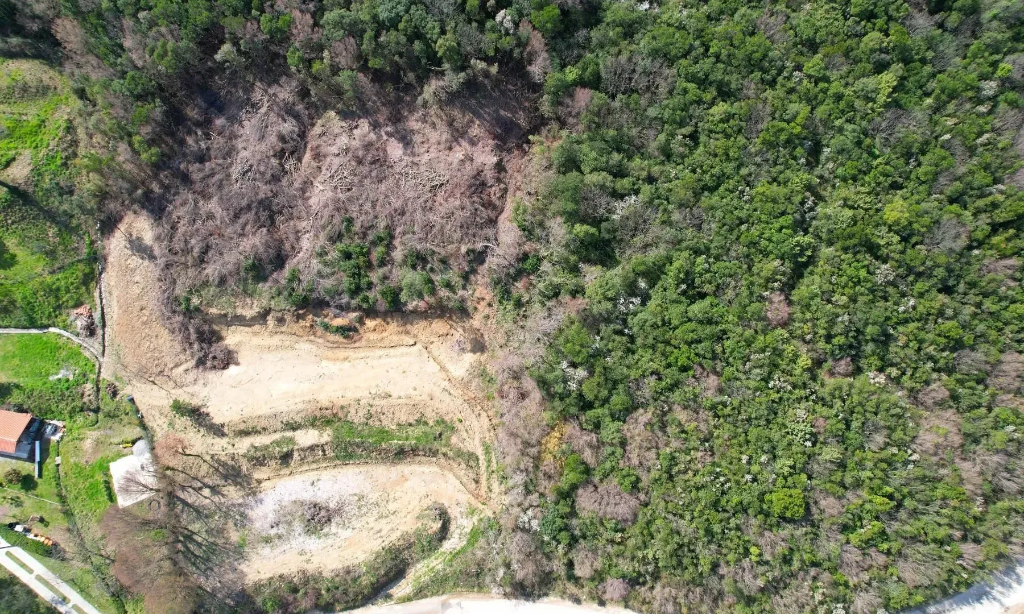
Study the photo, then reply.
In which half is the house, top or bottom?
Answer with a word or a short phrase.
bottom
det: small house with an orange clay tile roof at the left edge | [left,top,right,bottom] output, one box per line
[0,407,42,454]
